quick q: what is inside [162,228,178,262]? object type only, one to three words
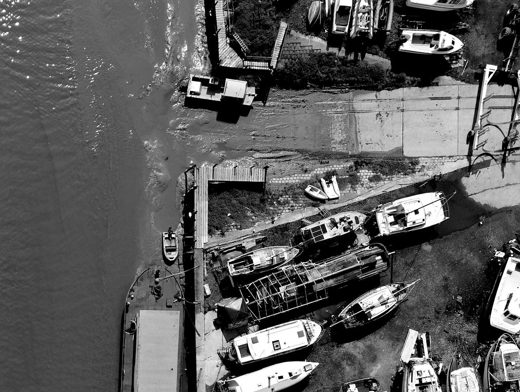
boat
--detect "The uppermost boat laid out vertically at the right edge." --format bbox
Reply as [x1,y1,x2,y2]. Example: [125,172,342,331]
[485,259,520,336]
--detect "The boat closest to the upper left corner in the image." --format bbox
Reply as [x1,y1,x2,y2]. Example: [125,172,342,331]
[182,74,256,109]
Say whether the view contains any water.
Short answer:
Yes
